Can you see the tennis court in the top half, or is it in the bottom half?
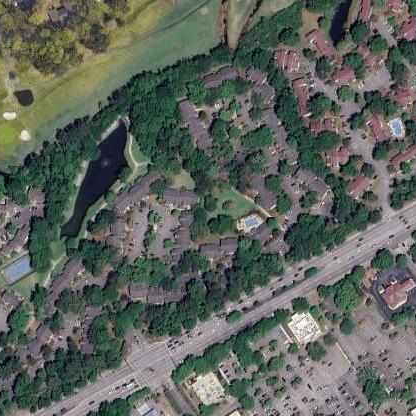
bottom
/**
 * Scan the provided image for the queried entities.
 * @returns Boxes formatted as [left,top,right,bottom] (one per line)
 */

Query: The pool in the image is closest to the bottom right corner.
[237,216,264,232]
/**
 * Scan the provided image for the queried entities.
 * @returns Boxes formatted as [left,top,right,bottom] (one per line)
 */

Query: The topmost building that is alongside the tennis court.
[0,223,30,255]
